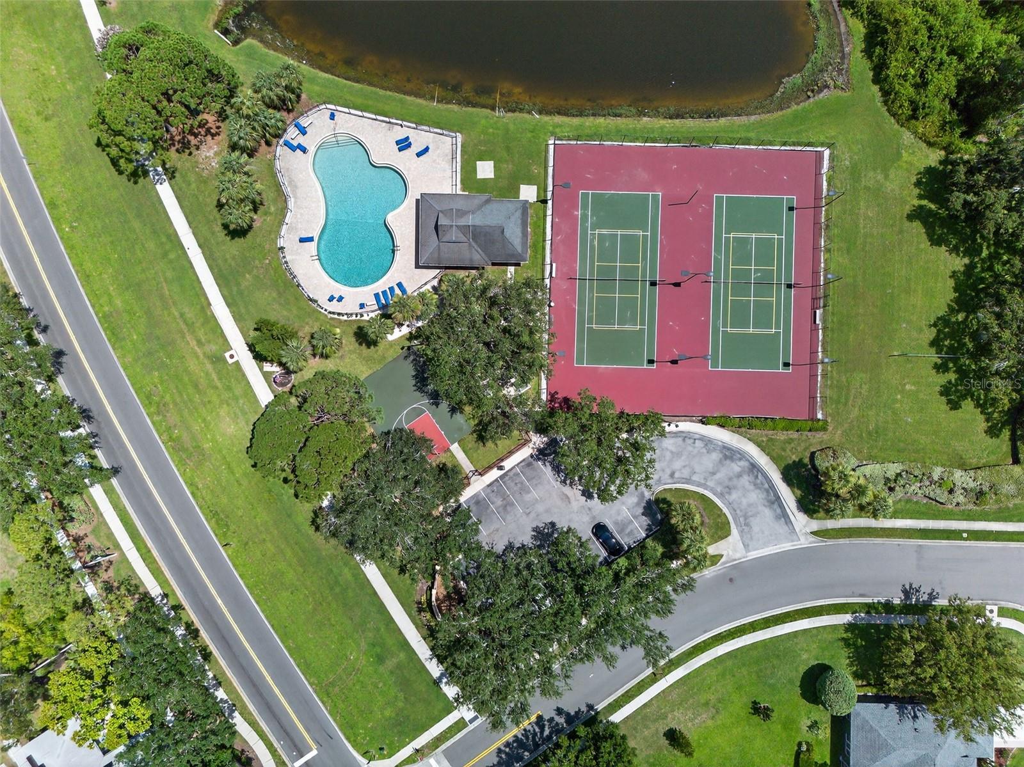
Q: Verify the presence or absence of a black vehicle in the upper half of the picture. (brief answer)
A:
No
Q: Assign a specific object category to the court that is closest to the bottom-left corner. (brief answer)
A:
basketball court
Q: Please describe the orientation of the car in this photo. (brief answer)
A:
at an angle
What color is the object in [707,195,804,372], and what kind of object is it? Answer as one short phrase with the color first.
green tennis court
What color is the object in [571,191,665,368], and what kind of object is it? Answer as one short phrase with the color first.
green tennis court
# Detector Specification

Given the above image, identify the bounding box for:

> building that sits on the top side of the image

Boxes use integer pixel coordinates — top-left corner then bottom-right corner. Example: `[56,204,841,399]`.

[419,193,529,268]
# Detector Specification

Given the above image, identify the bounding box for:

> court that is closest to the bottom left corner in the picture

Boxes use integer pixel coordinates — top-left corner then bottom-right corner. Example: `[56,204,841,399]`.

[353,346,481,471]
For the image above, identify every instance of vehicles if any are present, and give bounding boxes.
[591,523,621,559]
